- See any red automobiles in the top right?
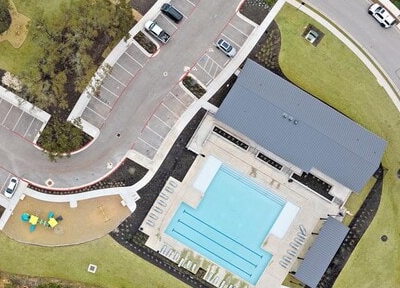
No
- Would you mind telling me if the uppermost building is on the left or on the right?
right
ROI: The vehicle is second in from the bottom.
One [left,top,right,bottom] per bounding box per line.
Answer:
[215,39,236,57]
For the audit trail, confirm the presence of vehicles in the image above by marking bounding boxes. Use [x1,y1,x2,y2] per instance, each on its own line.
[215,39,236,57]
[4,176,20,199]
[143,21,170,44]
[368,6,394,27]
[160,3,183,23]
